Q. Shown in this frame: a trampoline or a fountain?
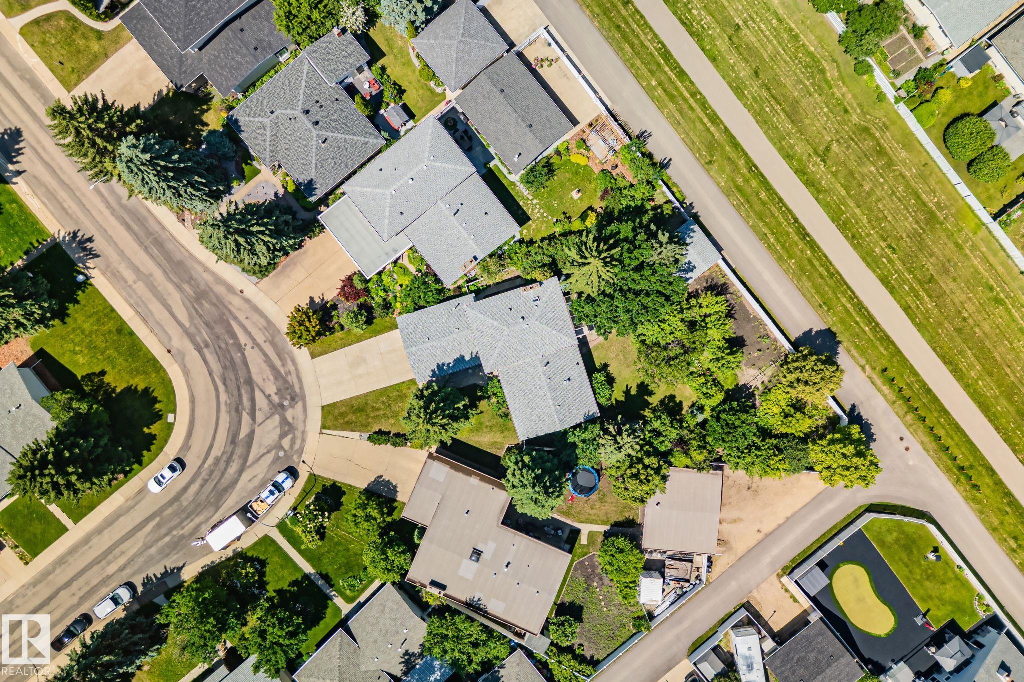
trampoline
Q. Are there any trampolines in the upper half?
No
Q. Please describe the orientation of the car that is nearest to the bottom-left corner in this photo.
diagonally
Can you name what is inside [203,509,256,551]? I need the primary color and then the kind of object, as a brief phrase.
white trailer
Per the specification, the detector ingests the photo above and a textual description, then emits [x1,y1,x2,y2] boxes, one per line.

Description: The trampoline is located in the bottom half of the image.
[570,466,602,501]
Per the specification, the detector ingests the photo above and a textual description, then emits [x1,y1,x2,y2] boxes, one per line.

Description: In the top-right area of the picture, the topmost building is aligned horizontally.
[903,0,1021,54]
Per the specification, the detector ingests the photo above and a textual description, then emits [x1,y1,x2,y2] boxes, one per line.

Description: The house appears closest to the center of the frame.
[399,276,601,441]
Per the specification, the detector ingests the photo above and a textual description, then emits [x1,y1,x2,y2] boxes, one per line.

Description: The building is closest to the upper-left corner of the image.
[118,0,291,101]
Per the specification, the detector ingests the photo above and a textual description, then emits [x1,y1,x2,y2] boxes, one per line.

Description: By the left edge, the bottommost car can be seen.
[46,617,87,653]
